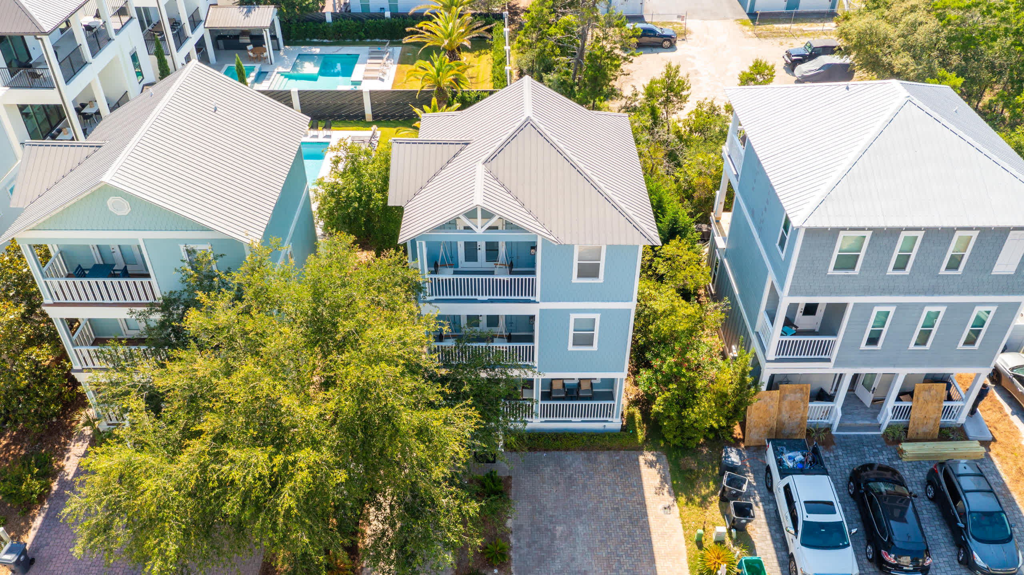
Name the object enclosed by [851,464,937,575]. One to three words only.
car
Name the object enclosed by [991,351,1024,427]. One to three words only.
car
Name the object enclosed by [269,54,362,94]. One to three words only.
swimming pool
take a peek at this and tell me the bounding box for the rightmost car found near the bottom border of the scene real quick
[926,459,1024,575]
